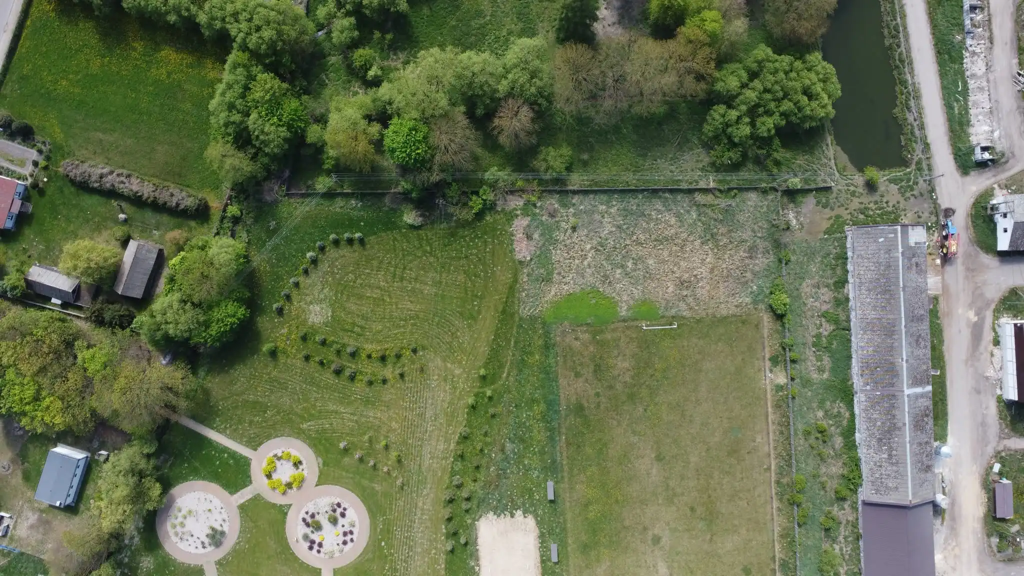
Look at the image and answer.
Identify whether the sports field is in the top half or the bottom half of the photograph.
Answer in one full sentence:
You can find the sports field in the bottom half.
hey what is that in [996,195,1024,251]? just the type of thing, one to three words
building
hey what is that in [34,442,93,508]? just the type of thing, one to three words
building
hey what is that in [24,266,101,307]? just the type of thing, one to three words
barn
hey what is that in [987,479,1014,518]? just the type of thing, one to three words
shed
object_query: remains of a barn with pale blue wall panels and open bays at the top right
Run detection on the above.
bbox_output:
[960,0,988,45]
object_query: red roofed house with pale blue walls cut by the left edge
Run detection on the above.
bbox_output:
[0,175,30,229]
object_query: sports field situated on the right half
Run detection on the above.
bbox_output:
[558,316,774,576]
